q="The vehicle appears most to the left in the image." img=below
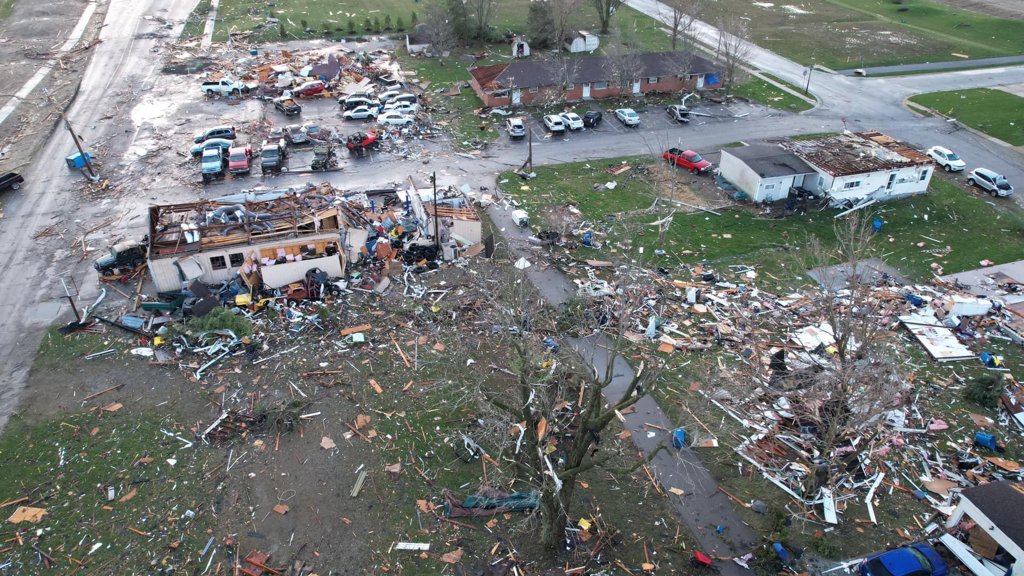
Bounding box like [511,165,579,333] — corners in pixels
[0,171,30,191]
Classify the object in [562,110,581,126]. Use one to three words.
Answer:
car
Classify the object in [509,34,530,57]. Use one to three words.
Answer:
shed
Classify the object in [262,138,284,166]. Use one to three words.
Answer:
truck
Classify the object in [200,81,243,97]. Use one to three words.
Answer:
vehicle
